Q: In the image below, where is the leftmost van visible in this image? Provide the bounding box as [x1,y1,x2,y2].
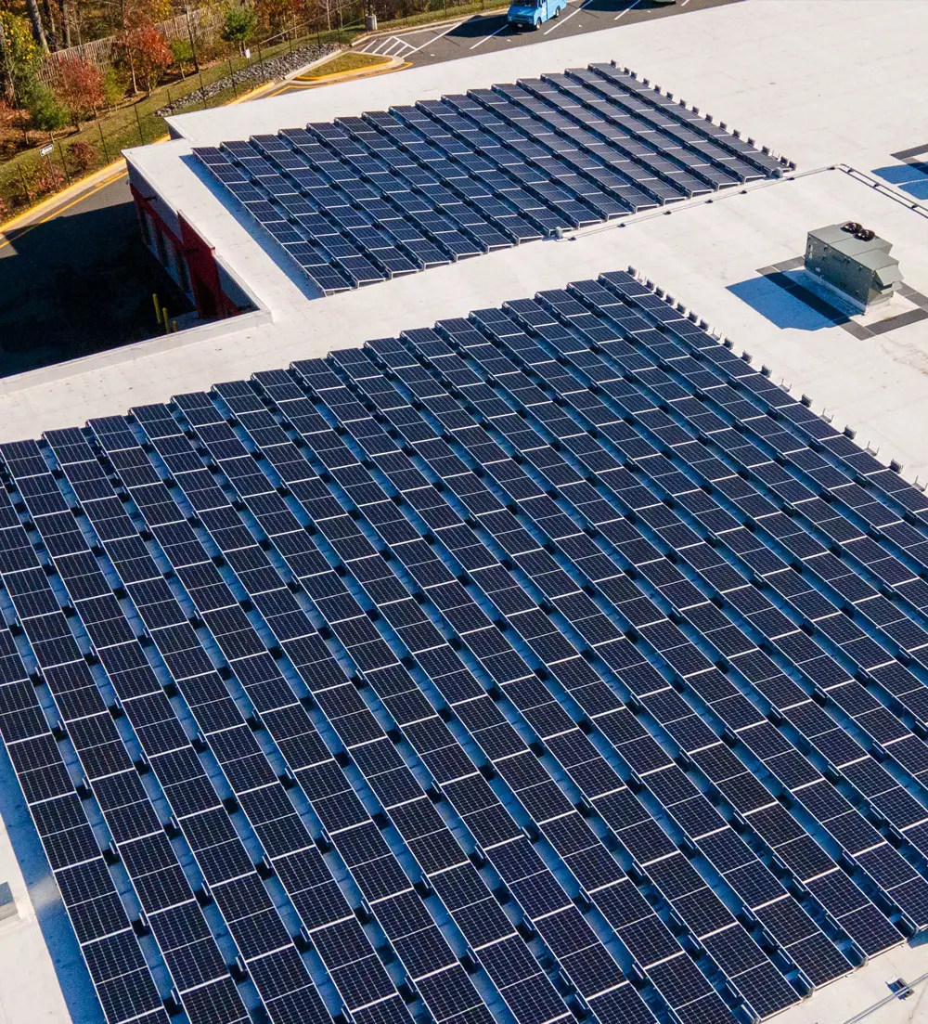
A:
[506,0,569,30]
